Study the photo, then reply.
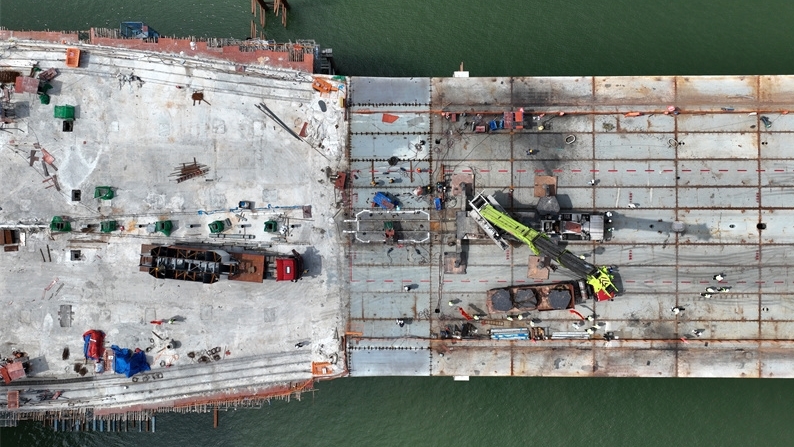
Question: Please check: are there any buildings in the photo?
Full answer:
No, the photo shows no building.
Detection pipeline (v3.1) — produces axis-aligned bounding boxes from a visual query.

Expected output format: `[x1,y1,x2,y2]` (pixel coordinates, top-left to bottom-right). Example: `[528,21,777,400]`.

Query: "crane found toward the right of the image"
[456,182,630,300]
